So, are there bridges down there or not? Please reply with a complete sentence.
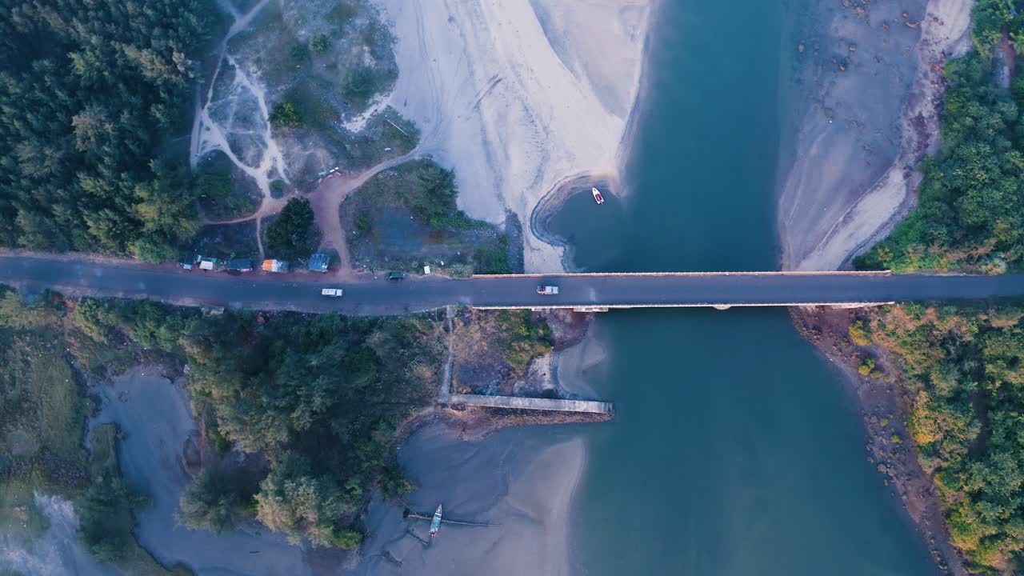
Yes, a bridge appears in the view.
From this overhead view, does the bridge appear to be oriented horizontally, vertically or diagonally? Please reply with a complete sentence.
What the image shows is the bridge lying horizontally.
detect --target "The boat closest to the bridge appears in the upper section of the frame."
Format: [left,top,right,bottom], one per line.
[593,186,606,206]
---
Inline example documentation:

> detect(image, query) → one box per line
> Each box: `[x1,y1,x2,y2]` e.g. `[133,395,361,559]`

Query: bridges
[472,271,894,311]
